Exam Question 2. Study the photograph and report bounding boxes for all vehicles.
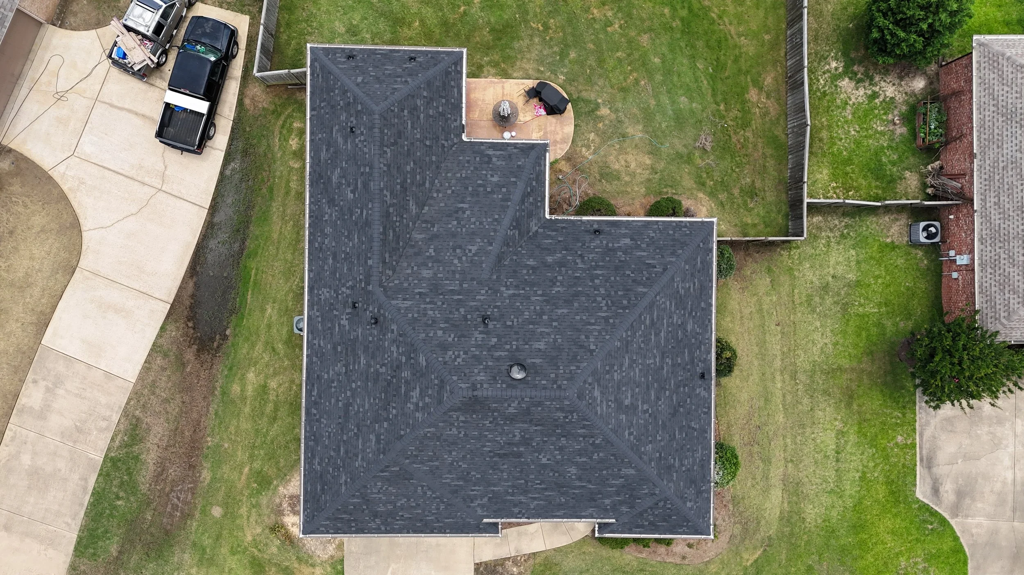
[106,0,200,83]
[152,15,242,157]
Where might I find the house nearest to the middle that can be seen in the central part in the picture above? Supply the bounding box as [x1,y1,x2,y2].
[300,43,718,538]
